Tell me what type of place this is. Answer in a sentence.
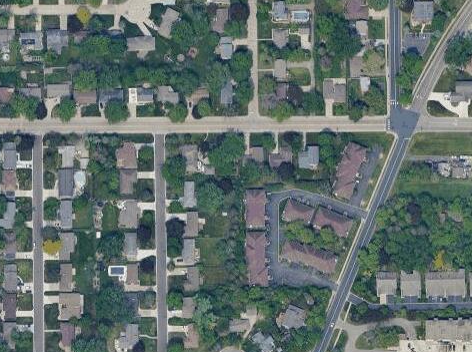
This looks like a residential area.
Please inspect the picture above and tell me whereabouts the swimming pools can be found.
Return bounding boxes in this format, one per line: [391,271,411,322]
[291,11,310,22]
[108,266,127,276]
[74,172,85,183]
